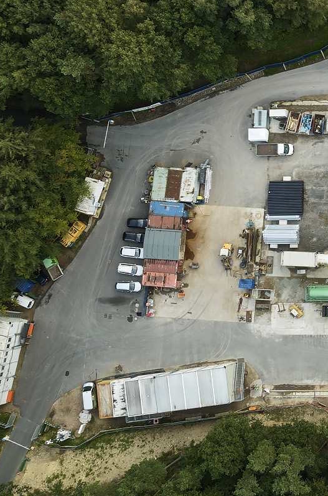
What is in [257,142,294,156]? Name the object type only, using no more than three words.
vehicle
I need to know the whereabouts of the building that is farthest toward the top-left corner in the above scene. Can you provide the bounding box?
[76,177,113,216]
